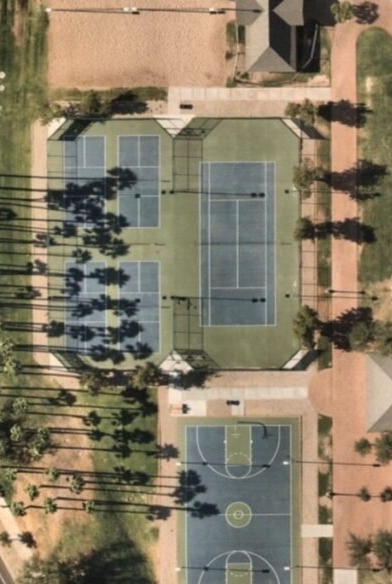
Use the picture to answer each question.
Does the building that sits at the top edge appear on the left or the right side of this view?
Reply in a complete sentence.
It is on the right.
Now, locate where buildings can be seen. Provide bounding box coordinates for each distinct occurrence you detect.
[235,0,303,72]
[366,352,392,432]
